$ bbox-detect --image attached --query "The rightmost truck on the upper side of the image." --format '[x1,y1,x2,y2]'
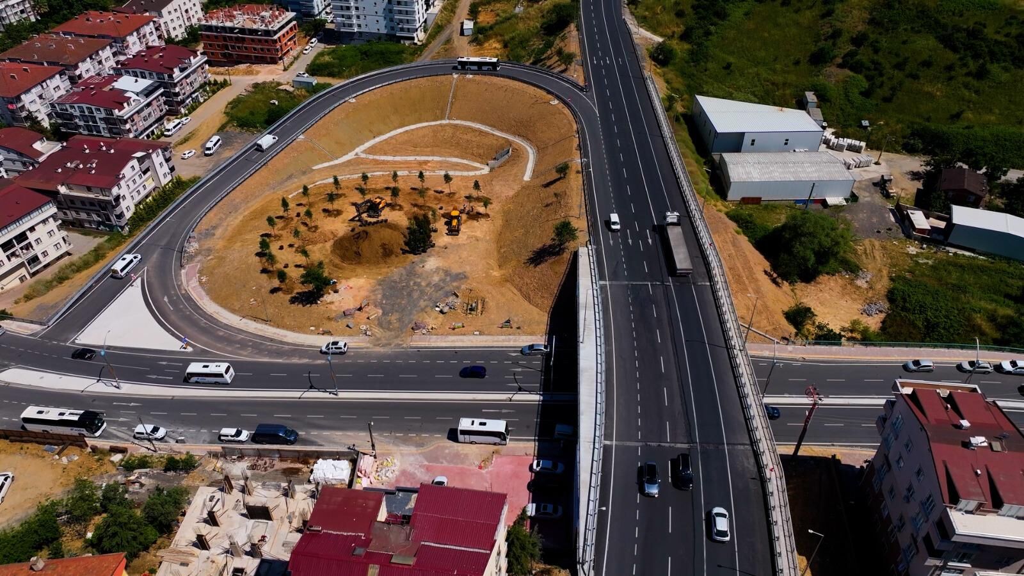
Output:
[875,174,901,196]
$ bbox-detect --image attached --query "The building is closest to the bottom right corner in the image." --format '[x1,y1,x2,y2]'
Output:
[855,375,1024,576]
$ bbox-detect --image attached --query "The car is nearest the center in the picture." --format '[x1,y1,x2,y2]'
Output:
[520,342,550,356]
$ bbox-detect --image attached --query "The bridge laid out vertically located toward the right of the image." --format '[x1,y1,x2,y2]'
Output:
[571,78,800,576]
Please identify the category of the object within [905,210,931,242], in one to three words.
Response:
shed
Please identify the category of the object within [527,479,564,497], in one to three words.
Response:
car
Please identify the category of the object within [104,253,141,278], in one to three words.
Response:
vehicle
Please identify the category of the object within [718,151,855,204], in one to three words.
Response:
building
